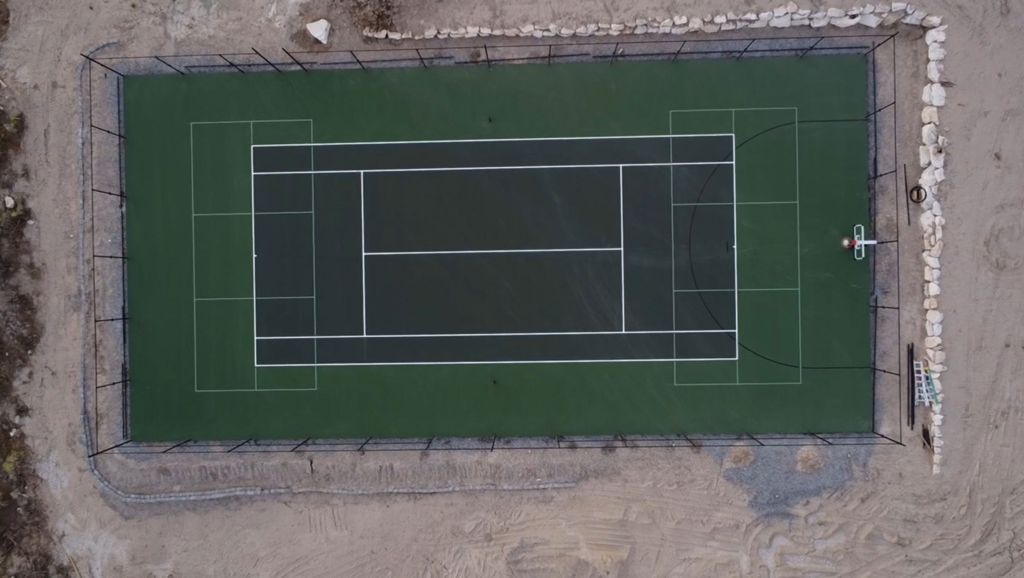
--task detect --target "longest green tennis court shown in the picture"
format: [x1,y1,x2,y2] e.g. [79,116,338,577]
[124,55,873,441]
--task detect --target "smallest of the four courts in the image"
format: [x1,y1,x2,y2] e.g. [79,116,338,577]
[689,119,871,368]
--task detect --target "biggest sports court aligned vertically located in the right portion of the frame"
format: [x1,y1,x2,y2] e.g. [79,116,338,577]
[670,107,801,385]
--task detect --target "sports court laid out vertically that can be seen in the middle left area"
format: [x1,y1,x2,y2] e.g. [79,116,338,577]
[191,119,317,391]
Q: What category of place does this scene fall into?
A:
sports ground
